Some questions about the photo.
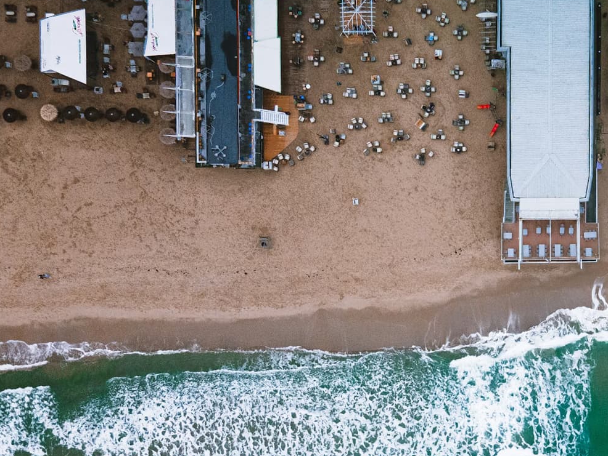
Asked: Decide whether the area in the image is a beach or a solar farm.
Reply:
beach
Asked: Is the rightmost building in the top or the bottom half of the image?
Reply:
top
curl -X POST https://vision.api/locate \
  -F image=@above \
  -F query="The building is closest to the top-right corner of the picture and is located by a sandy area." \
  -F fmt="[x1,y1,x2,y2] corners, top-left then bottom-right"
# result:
[498,0,594,201]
